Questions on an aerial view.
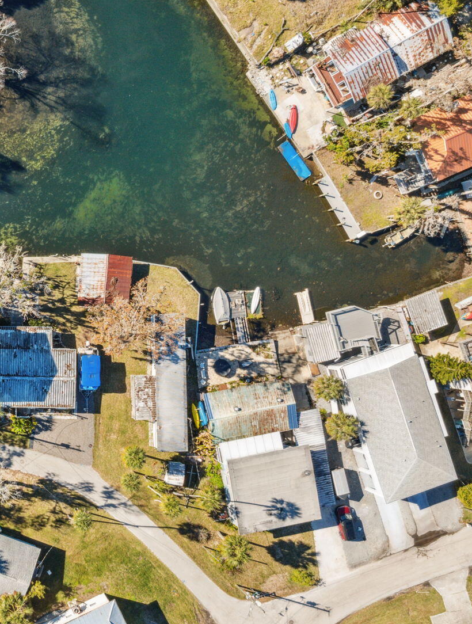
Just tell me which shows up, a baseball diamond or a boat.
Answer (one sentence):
Of the two, only a boat appears.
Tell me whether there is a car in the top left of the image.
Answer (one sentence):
No, no car appears in the top left of the image.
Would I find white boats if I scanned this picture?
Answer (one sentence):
Yes, a white boat appears in the view.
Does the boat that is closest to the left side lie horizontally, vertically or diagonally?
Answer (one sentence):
The boat that is closest to the left side has been laid out vertically relative to the frame.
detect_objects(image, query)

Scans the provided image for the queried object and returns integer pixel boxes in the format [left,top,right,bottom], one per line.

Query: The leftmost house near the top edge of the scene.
[312,25,399,107]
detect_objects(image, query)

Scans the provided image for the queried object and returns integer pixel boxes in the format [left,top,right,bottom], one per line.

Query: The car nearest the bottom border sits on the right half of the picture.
[338,505,363,543]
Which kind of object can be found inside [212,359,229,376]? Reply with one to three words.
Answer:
umbrella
